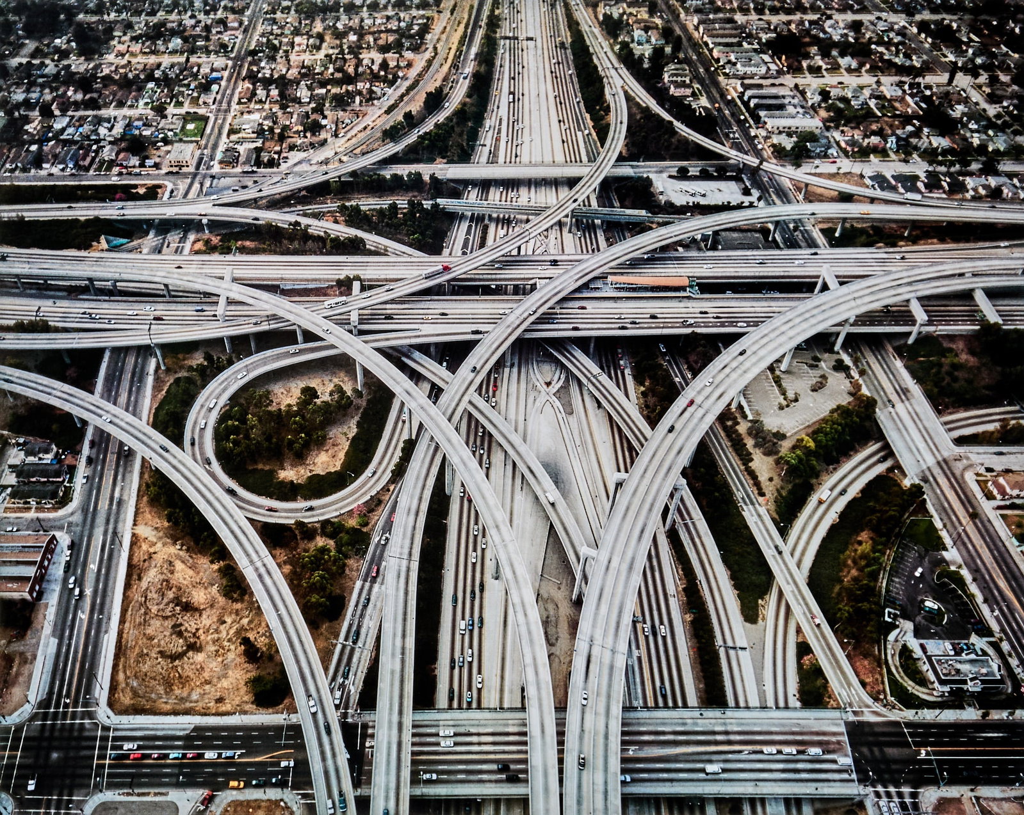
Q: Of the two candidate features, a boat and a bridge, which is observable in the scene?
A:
bridge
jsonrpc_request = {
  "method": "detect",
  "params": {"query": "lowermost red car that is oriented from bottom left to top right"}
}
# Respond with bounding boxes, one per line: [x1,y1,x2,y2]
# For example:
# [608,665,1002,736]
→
[199,792,212,806]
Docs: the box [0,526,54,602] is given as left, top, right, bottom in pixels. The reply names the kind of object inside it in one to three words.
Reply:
building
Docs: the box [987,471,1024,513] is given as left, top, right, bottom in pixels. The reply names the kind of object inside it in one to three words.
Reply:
house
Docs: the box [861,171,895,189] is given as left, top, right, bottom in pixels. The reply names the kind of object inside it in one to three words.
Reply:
house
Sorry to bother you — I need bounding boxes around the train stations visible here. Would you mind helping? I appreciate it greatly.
[566,277,701,296]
